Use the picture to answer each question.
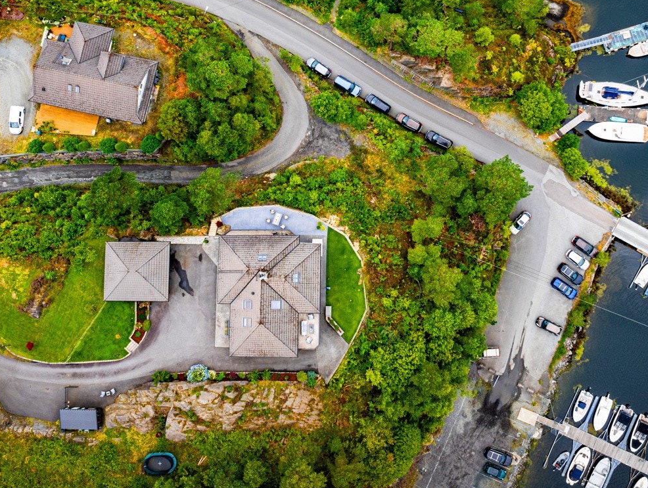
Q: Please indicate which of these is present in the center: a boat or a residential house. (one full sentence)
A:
The feature located in the center is a residential house.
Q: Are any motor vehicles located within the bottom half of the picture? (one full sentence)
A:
Yes, you'll find a motor vehicle within the bottom half of the picture.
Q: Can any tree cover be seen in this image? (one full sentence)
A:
Yes, the picture does contain tree cover.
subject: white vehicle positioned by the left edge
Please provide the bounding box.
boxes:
[7,105,26,135]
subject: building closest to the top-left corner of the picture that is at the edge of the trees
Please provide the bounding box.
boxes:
[29,22,160,136]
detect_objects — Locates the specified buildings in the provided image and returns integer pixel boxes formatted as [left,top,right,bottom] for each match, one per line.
[61,408,101,429]
[103,241,171,301]
[217,230,322,358]
[29,22,160,136]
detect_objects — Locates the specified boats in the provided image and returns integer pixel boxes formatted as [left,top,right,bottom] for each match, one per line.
[595,389,615,430]
[632,412,648,452]
[627,39,648,54]
[633,477,648,488]
[587,119,648,140]
[564,447,592,487]
[611,400,635,442]
[552,451,569,474]
[574,385,594,421]
[635,265,648,290]
[577,78,648,106]
[586,458,610,488]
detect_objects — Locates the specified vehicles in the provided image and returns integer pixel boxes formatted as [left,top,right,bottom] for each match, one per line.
[7,105,26,135]
[547,277,579,302]
[471,345,502,361]
[481,459,510,481]
[364,91,393,114]
[424,128,454,150]
[508,208,534,236]
[569,232,601,256]
[395,111,425,134]
[562,248,594,271]
[533,315,565,337]
[483,445,516,467]
[306,57,332,77]
[332,73,363,97]
[555,262,586,286]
